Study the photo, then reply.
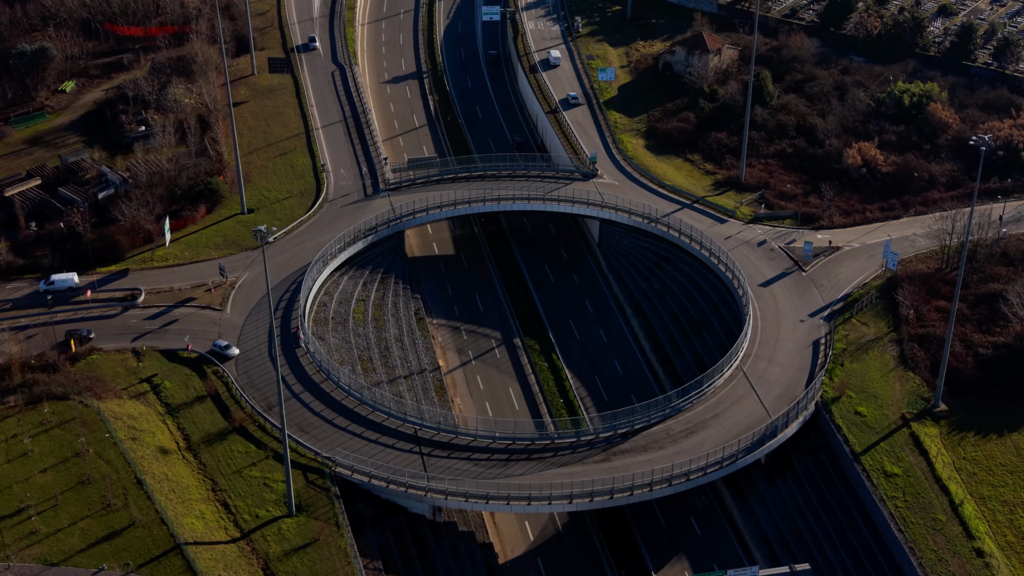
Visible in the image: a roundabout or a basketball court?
roundabout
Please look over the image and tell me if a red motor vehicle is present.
No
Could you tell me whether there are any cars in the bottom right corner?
No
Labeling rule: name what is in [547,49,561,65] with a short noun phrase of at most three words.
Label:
vehicle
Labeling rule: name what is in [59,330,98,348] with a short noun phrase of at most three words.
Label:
car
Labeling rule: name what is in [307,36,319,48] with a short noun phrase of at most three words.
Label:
vehicle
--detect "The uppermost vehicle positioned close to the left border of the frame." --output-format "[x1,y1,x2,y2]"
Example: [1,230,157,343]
[39,273,80,296]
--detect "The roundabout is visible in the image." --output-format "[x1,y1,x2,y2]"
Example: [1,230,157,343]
[219,173,831,497]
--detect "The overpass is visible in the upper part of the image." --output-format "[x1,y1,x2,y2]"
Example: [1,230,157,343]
[388,170,607,224]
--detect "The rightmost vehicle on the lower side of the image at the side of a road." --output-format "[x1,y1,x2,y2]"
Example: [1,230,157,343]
[210,340,241,362]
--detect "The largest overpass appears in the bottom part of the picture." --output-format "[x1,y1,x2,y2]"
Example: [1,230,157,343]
[330,334,832,522]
